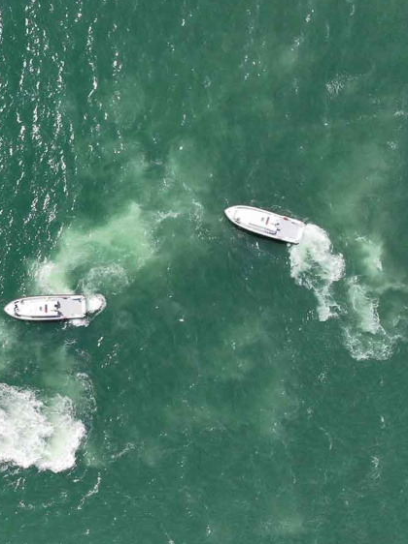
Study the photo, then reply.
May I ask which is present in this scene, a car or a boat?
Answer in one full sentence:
Of the two, only a boat appears.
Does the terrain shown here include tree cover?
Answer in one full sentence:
No, the scene doesn't show any tree cover.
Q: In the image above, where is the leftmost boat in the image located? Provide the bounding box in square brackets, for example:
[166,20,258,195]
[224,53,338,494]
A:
[6,294,89,321]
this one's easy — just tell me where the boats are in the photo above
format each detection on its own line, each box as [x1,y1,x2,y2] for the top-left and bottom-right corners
[6,294,89,321]
[227,203,309,244]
